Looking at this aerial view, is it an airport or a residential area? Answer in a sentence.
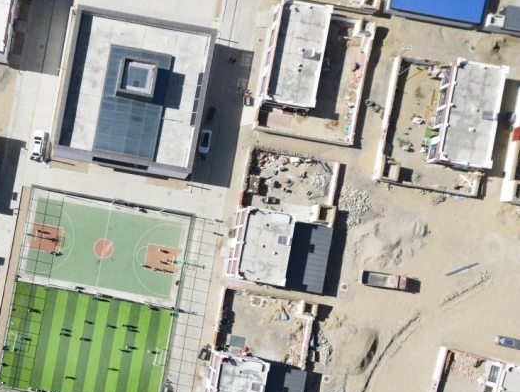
The area seen from above is a residential area.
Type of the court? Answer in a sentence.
In the photo, the court shows up as a basketball court.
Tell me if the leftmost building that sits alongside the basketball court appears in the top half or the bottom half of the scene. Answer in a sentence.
The leftmost building that sits alongside the basketball court is in the top half of the image.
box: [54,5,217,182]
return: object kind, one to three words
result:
building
